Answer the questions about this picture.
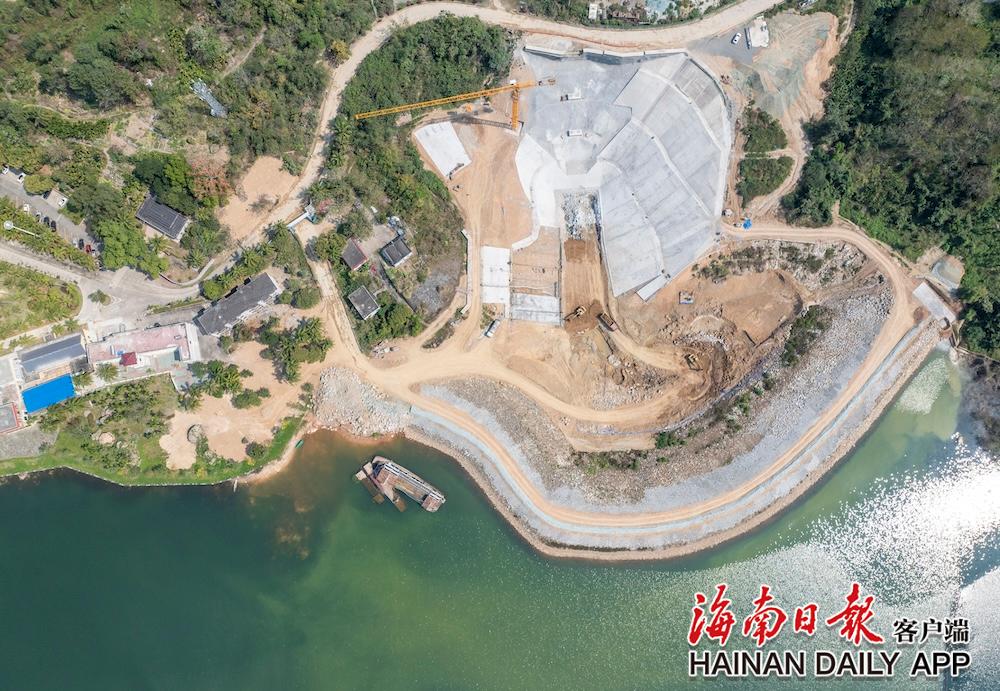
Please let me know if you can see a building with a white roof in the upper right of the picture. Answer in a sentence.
Yes, a building with a white roof is visible in the upper right of the picture.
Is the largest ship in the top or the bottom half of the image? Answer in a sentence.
The largest ship sits in the bottom half of the picture.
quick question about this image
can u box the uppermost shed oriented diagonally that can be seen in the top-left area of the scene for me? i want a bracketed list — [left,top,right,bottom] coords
[191,81,229,121]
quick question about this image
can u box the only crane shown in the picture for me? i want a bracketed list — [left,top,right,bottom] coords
[354,74,562,136]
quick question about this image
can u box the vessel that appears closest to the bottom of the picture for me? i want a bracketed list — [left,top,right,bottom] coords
[355,456,445,511]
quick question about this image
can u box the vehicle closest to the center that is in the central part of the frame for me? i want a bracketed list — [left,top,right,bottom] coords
[485,318,499,337]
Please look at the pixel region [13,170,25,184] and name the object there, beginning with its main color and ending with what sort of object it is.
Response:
white vehicle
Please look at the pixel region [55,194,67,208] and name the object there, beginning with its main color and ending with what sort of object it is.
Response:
white vehicle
